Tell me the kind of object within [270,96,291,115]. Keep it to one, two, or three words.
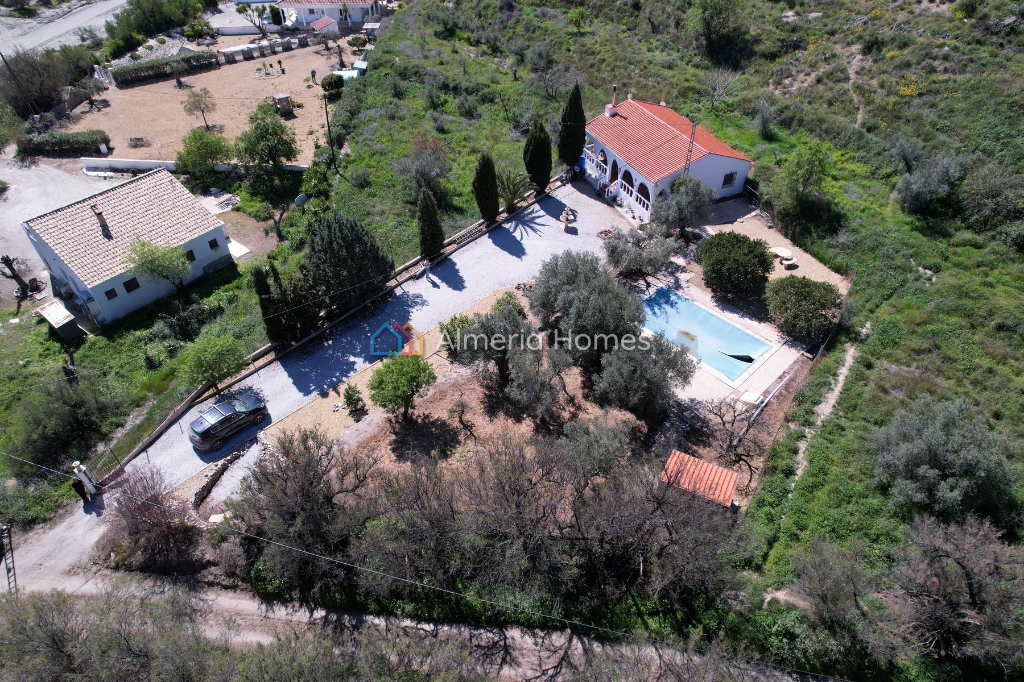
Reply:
shed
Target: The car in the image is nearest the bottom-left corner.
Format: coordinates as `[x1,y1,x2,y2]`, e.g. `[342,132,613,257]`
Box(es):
[185,394,269,450]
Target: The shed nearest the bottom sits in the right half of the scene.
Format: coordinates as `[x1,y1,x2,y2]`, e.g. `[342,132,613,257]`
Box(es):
[662,447,743,519]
